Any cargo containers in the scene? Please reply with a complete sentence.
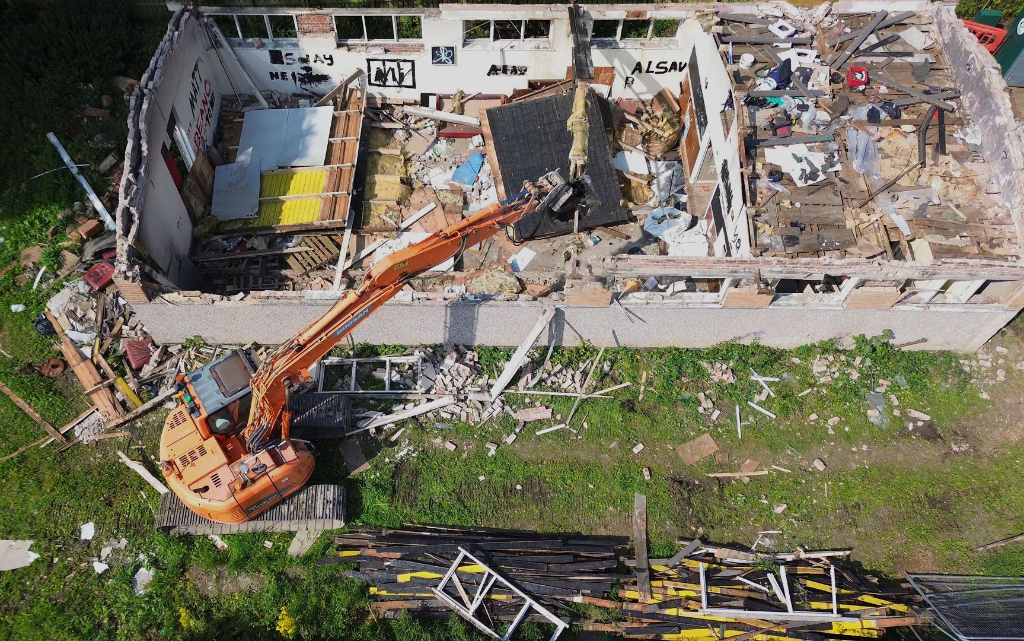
No, the scene contains no cargo container.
